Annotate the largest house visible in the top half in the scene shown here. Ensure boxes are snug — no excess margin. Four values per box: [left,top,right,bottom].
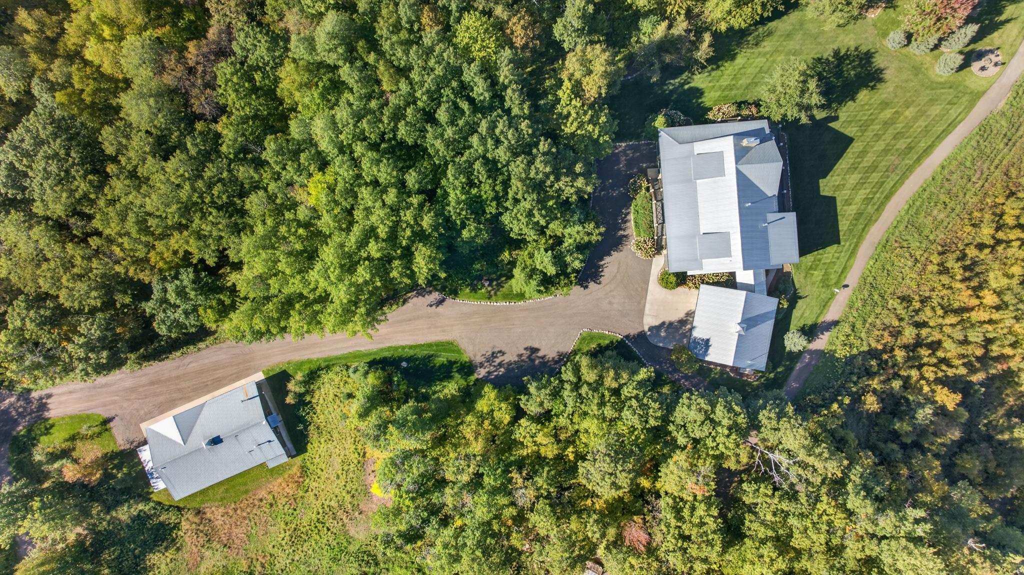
[654,120,800,275]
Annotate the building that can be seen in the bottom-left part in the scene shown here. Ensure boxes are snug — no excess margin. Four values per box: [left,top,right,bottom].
[146,381,289,501]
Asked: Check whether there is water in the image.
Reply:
No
